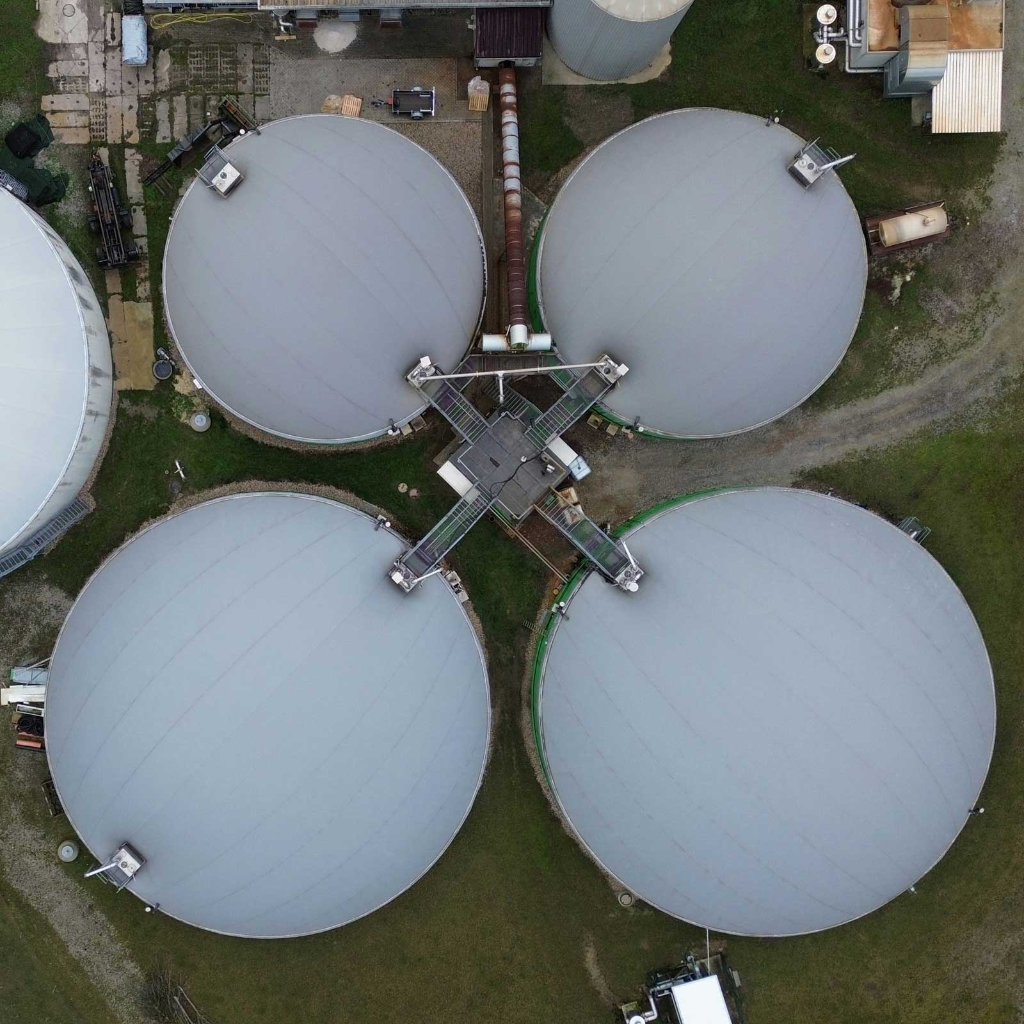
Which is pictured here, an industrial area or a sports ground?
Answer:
industrial area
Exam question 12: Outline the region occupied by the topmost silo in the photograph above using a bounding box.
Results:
[547,0,693,82]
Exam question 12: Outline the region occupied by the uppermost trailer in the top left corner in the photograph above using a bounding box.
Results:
[123,0,151,73]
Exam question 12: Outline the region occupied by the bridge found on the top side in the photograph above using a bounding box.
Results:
[452,351,583,391]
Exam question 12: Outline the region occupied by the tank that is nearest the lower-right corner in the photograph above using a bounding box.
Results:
[532,485,995,939]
